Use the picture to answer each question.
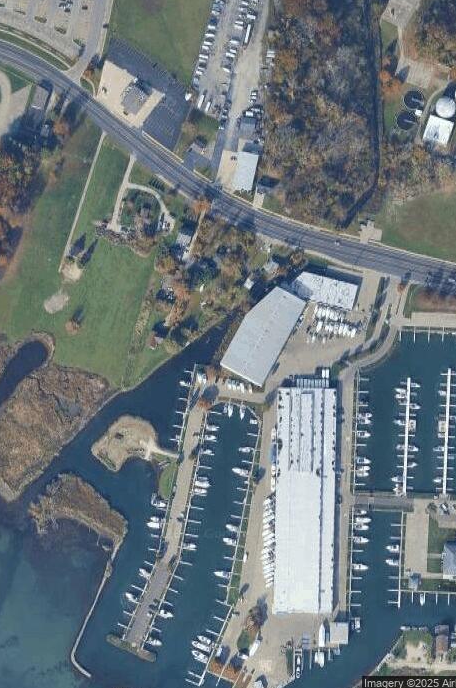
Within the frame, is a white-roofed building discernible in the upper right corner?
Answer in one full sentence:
Yes, there is a white-roofed building in the upper right corner.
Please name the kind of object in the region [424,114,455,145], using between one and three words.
building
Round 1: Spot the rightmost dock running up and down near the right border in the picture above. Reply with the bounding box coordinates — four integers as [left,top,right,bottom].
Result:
[436,368,456,495]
